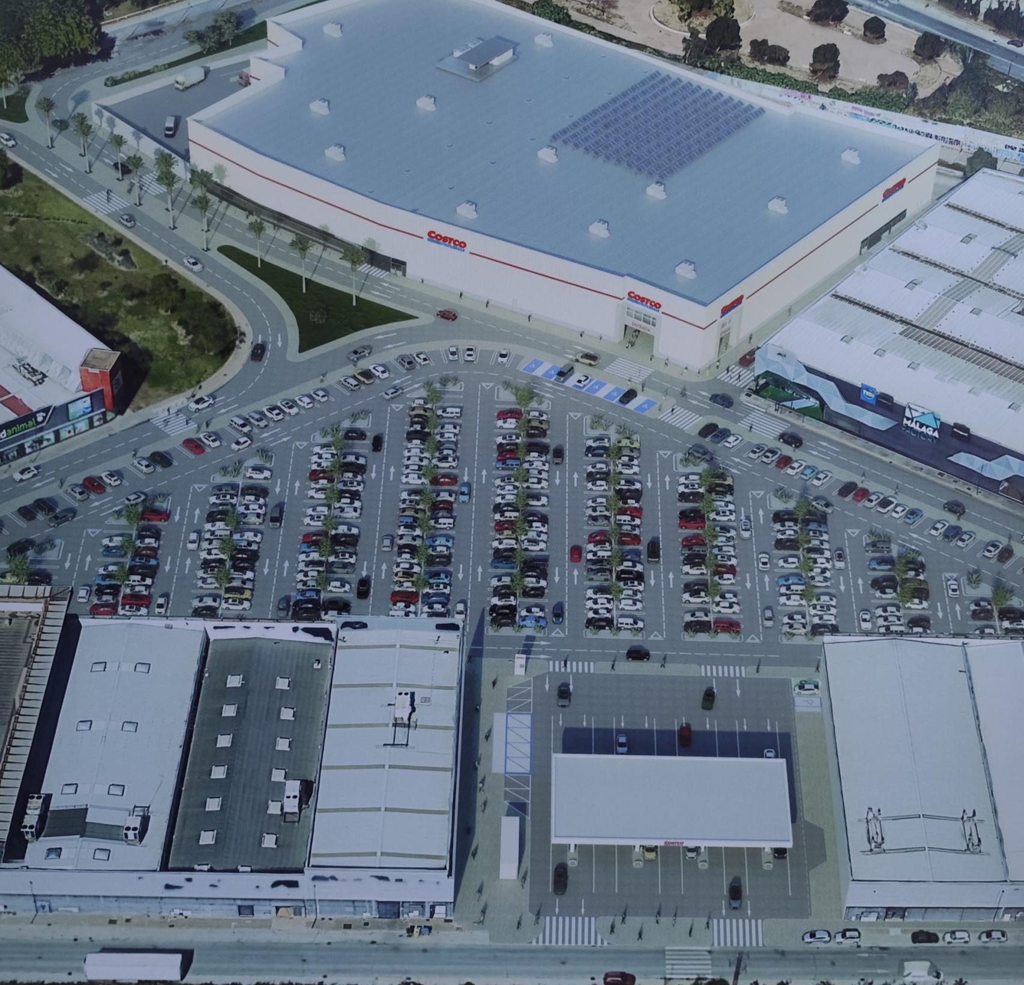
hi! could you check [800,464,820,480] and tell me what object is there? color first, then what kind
blue car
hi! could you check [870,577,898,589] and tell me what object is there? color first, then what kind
black vehicle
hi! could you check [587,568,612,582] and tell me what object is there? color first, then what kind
gray car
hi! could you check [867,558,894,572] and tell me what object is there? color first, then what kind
blue car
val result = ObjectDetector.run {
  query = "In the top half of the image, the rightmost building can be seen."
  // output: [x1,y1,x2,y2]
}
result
[754,167,1024,502]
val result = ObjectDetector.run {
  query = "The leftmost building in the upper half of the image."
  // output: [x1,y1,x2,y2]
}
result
[0,266,125,462]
